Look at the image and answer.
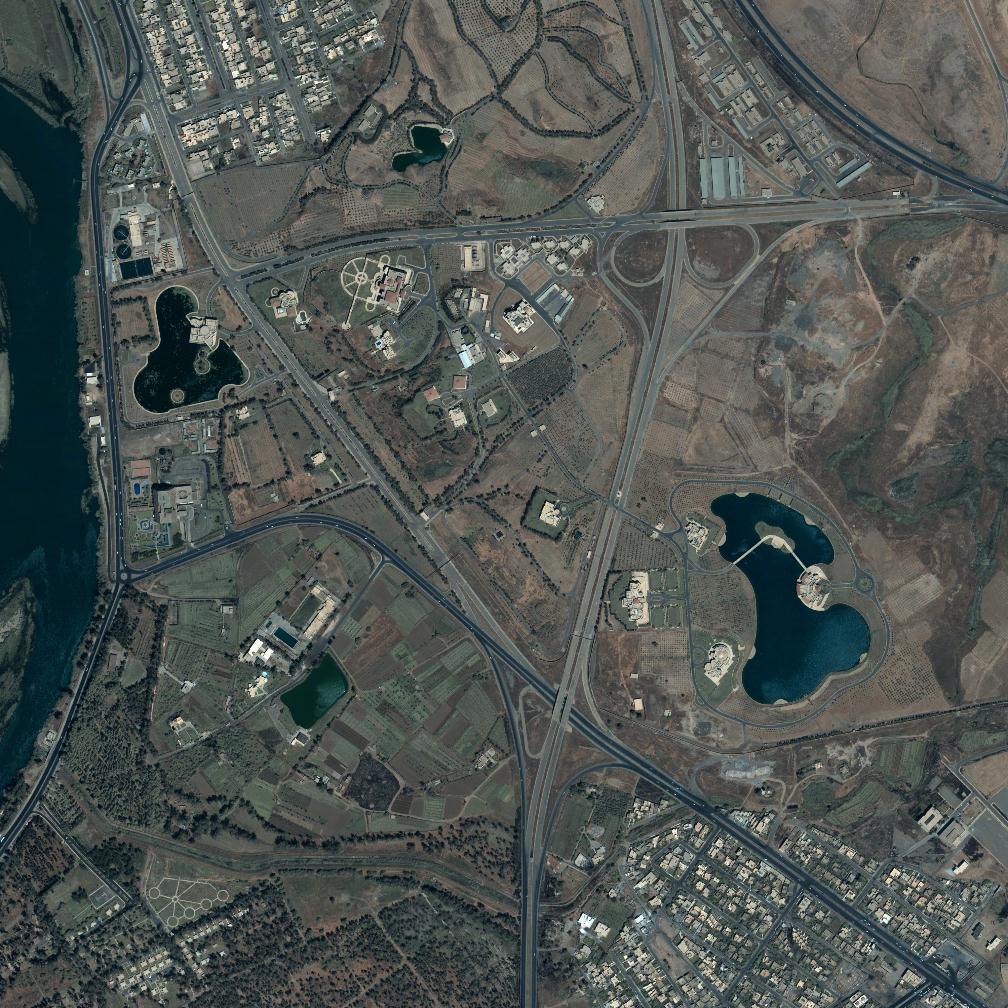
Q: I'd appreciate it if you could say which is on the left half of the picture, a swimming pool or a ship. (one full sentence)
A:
The feature located on the left half of the picture is a swimming pool.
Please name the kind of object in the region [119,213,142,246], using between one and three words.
house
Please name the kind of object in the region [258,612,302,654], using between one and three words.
swimming pool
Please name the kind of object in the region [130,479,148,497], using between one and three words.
swimming pool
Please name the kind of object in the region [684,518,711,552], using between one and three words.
building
